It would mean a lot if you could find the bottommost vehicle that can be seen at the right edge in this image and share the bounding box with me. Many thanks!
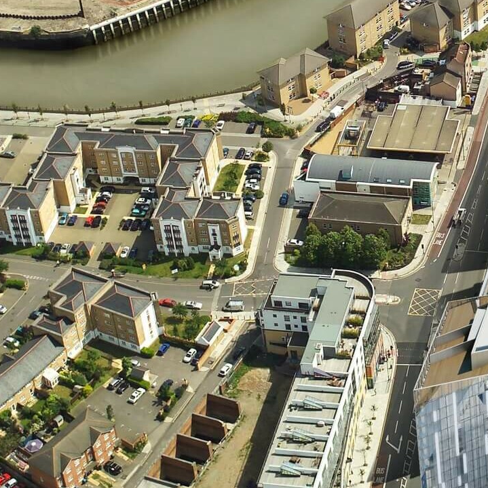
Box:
[451,203,466,224]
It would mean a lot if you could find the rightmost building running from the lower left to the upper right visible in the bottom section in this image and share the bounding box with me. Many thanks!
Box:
[192,318,228,353]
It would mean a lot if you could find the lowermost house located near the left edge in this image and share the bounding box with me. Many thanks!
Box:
[24,409,122,488]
